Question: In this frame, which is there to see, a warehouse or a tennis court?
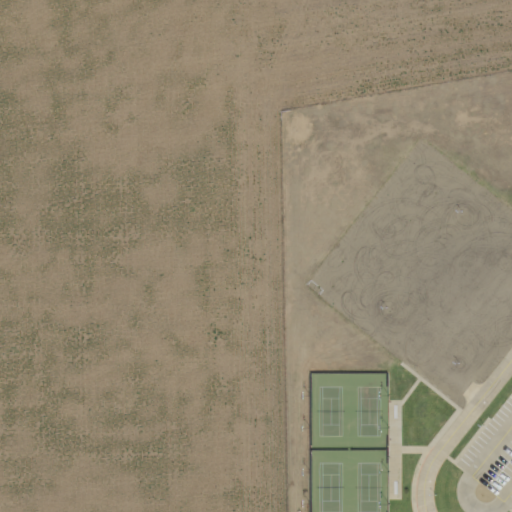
tennis court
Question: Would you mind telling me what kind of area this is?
farmland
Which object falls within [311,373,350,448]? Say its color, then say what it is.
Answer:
green tennis court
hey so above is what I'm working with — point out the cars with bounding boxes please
[490,464,500,473]
[492,480,502,490]
[482,474,492,482]
[500,472,510,482]
[498,456,508,464]
[478,478,488,487]
[488,484,500,496]
[495,461,504,469]
[487,470,497,478]
[503,446,512,456]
